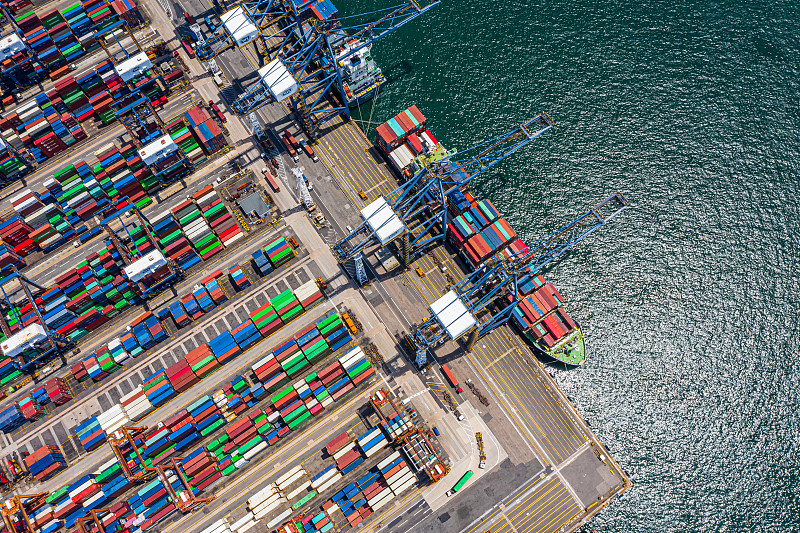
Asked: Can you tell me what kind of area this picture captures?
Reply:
port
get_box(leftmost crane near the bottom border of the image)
[2,483,55,533]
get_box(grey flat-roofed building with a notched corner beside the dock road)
[238,190,272,221]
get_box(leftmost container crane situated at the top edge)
[0,2,54,91]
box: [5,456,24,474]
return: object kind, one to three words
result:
work vehicle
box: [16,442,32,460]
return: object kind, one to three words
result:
work vehicle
